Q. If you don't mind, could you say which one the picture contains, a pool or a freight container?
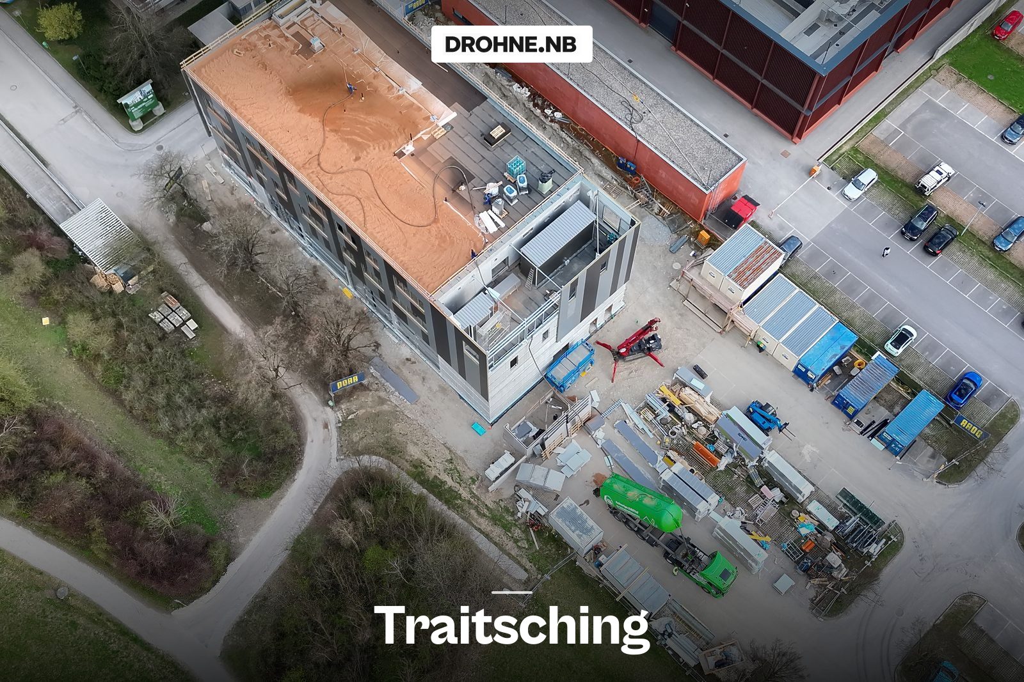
freight container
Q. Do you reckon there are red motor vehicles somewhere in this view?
Yes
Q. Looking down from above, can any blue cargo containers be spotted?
Yes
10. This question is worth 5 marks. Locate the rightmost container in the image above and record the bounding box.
[876,387,944,455]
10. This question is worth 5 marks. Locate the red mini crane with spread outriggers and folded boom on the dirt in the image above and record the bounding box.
[595,314,666,384]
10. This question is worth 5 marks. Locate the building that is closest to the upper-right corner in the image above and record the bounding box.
[608,0,958,142]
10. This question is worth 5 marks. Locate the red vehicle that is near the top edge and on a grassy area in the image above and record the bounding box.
[991,9,1024,39]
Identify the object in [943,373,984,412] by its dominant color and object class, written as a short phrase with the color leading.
blue car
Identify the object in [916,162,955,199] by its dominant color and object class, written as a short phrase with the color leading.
white car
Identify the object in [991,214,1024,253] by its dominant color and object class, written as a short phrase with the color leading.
blue car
